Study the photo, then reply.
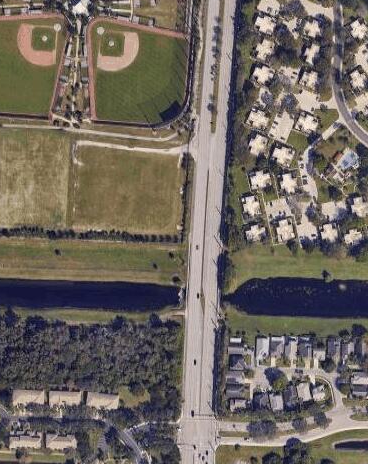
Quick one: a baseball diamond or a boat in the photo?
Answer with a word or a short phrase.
baseball diamond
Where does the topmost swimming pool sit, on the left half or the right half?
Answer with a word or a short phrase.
right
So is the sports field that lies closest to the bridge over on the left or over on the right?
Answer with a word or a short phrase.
left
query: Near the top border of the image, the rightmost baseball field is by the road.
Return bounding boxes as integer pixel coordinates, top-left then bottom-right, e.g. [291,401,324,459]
[89,19,191,128]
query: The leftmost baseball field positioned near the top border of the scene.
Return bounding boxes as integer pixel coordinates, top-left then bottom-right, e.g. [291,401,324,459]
[0,15,69,116]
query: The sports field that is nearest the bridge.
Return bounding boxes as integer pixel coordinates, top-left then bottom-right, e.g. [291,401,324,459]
[74,148,182,236]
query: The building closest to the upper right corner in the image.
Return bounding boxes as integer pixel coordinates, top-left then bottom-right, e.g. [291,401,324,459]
[348,17,368,41]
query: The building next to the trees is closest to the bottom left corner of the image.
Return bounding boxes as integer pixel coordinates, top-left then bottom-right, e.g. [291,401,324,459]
[10,435,40,449]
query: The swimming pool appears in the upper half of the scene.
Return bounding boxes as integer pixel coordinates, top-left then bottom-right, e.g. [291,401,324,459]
[338,147,359,171]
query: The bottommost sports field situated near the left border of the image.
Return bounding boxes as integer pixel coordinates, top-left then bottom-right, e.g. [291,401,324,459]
[0,129,69,231]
